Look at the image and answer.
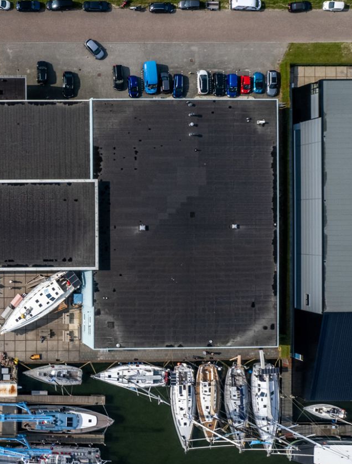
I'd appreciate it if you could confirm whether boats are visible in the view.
Yes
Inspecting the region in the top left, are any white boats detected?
No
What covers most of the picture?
buildings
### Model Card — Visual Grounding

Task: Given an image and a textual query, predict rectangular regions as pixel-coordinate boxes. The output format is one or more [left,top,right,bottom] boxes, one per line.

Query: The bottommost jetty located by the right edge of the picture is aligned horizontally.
[281,421,352,439]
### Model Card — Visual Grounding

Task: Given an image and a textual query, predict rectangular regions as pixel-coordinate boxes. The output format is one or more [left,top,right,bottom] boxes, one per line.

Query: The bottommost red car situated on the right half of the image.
[239,74,251,94]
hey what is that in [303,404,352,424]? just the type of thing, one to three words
boat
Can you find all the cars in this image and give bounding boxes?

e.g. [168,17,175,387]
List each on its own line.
[265,71,279,95]
[112,64,125,91]
[239,74,251,94]
[127,75,139,96]
[82,0,110,12]
[84,38,105,61]
[46,0,73,11]
[17,0,40,12]
[196,71,210,95]
[62,72,74,97]
[170,73,183,97]
[148,1,174,14]
[322,0,344,11]
[0,0,10,11]
[252,72,265,93]
[35,61,48,84]
[287,0,310,13]
[158,72,170,93]
[213,73,226,97]
[177,0,199,10]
